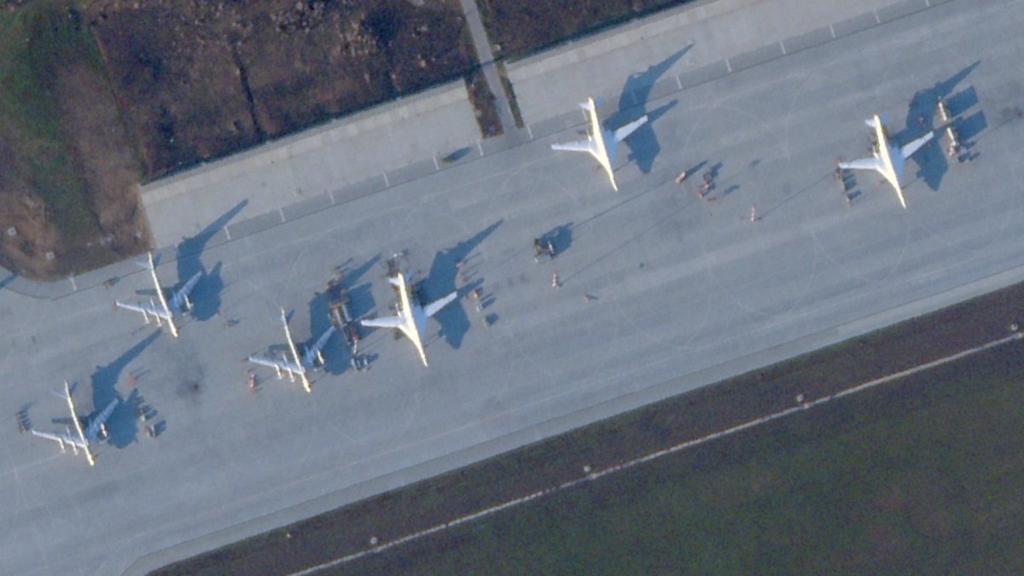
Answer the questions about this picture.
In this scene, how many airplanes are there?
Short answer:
six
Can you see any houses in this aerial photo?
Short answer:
No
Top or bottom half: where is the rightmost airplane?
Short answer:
top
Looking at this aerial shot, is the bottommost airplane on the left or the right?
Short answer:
left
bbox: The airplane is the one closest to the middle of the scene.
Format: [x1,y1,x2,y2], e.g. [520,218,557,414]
[361,275,458,366]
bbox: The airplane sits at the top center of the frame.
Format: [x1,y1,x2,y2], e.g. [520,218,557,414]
[552,101,647,190]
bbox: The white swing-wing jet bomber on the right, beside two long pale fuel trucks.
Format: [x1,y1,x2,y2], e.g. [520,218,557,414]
[838,117,933,206]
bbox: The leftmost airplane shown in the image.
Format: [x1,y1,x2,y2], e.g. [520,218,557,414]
[34,383,120,464]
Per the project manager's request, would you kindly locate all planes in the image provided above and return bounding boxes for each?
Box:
[34,383,120,464]
[552,101,647,190]
[838,117,933,206]
[250,311,336,390]
[118,255,204,337]
[361,275,458,366]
